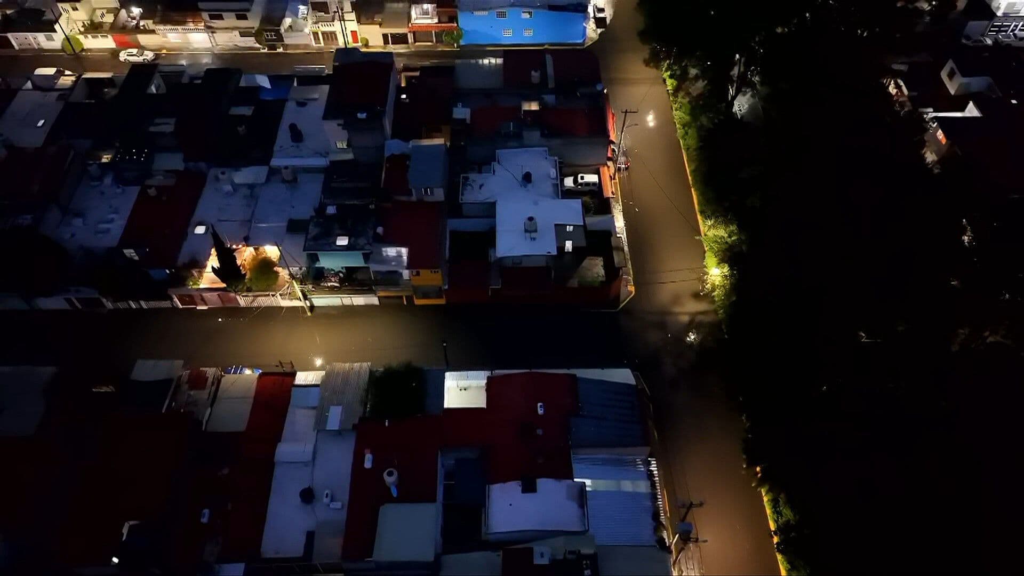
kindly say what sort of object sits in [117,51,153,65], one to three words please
car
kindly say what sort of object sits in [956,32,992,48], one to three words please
car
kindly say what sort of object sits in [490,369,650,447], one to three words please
house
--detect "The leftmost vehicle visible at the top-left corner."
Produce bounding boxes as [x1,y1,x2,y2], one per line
[27,69,73,91]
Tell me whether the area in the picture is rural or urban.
urban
